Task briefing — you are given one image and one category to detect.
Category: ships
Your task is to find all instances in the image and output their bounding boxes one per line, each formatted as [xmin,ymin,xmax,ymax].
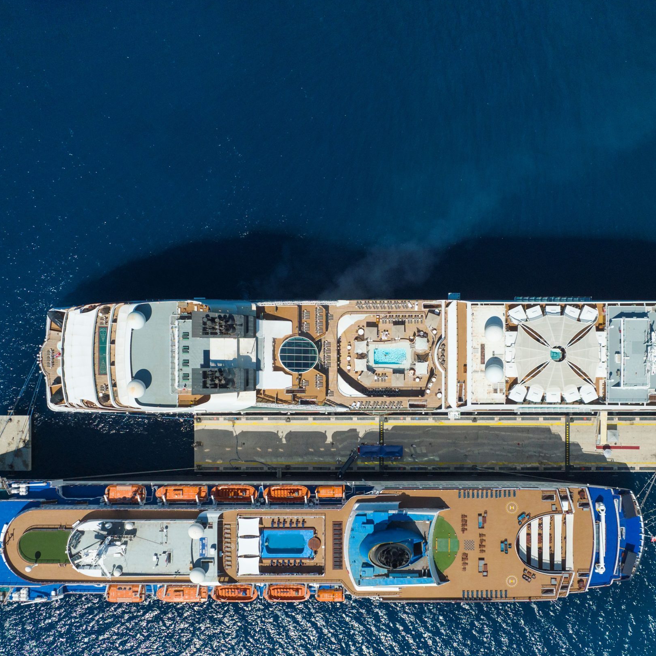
[37,293,656,418]
[0,476,656,608]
